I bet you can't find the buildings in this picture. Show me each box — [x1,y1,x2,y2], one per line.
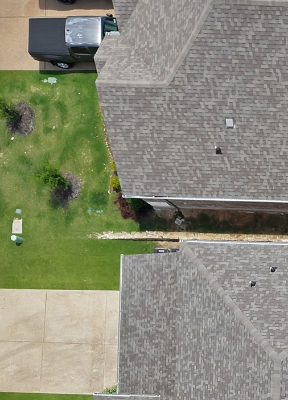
[91,238,288,400]
[93,0,288,218]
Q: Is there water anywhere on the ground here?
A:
No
